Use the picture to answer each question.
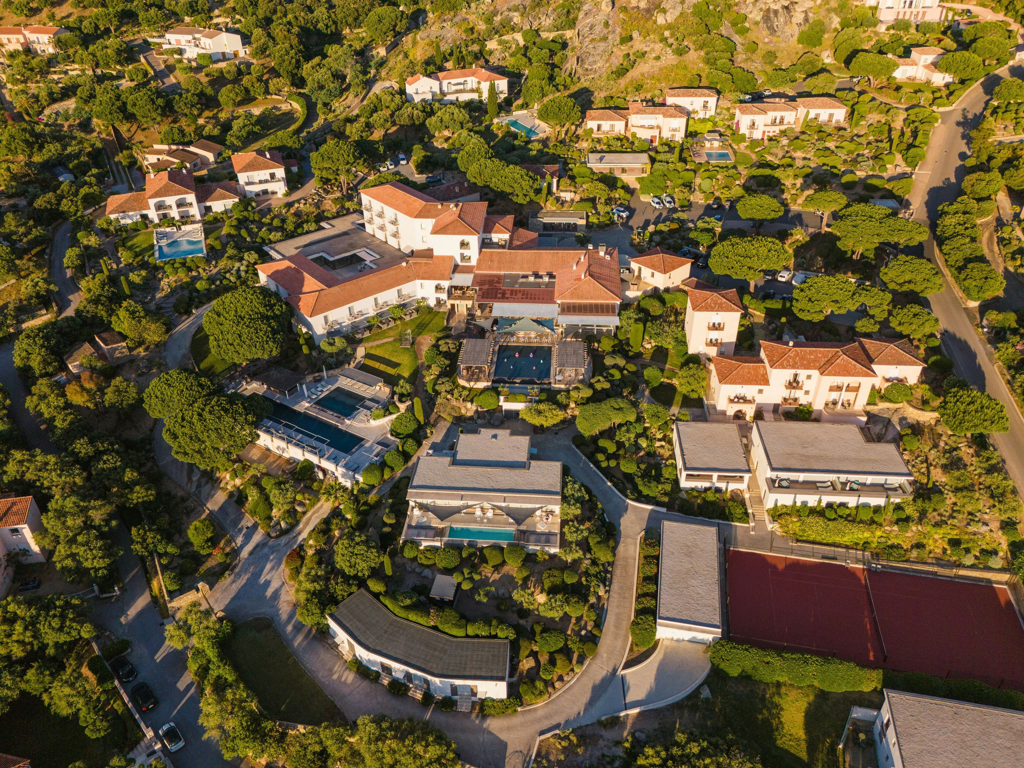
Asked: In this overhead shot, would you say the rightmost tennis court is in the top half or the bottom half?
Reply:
bottom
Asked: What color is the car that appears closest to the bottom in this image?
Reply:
black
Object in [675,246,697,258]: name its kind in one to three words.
vehicle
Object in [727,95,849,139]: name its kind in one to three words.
house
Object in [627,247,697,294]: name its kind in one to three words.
building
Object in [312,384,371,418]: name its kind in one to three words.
swimming pool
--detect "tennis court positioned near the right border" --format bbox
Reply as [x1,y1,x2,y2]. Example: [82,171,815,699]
[726,550,1024,677]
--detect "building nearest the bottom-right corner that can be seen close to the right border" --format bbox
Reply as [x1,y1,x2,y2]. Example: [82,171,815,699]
[876,688,1024,768]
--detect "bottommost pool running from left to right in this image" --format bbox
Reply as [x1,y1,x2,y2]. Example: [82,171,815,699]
[444,523,518,544]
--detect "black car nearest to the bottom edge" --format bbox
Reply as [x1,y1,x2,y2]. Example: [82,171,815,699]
[159,719,186,755]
